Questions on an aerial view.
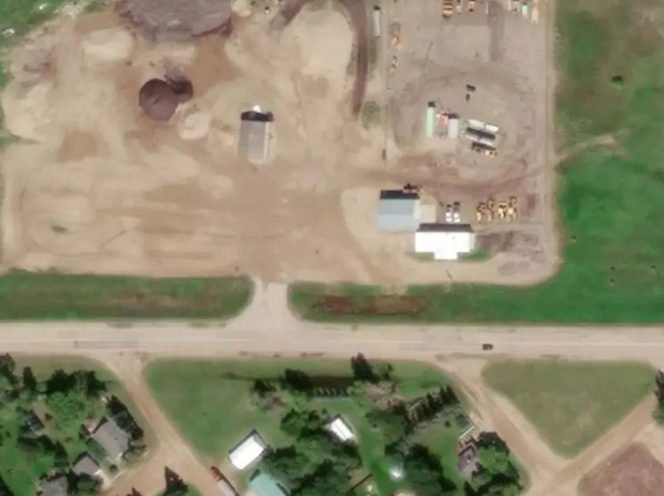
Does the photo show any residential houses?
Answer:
Yes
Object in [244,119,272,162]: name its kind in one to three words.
shed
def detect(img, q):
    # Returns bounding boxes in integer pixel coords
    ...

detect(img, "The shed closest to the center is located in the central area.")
[377,200,421,231]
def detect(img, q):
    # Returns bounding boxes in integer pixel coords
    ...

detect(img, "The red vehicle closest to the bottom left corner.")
[212,467,225,483]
